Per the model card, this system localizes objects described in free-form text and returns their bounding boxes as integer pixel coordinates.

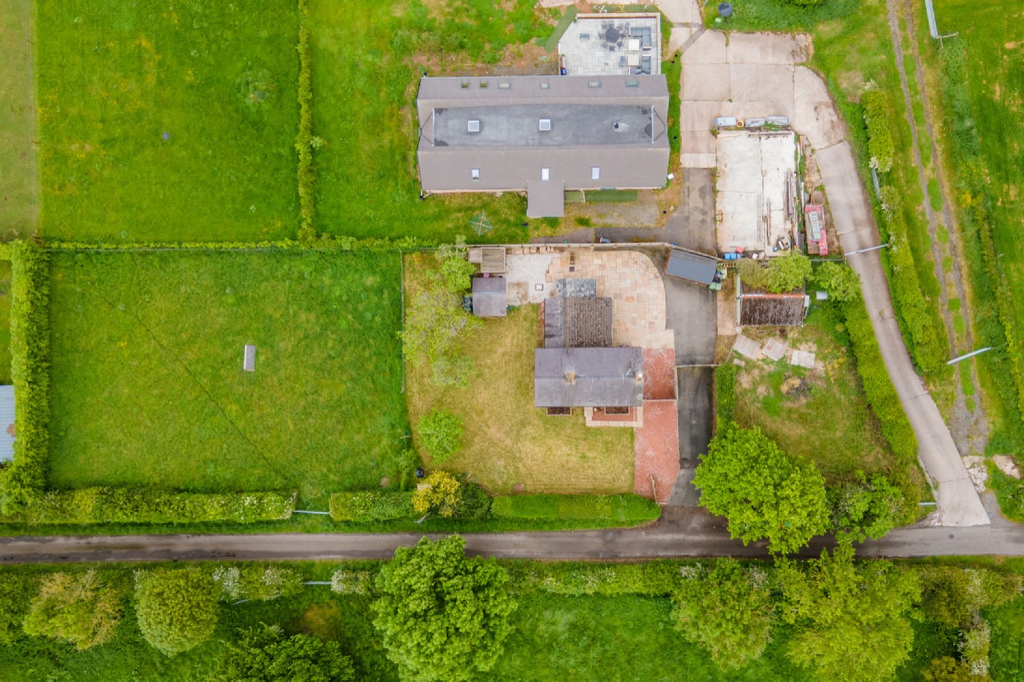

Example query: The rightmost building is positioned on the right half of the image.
[730,277,810,327]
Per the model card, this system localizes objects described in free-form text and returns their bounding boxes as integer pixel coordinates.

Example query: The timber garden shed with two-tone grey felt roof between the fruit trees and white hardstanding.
[472,277,506,317]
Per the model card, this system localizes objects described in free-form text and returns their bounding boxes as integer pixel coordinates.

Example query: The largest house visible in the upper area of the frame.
[417,74,671,221]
